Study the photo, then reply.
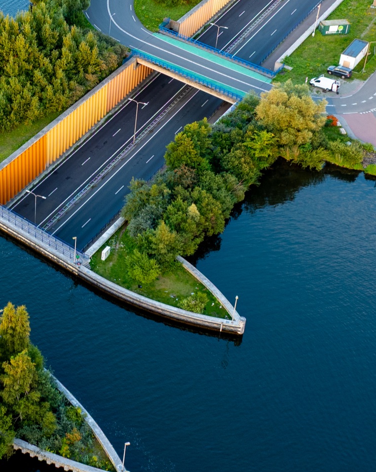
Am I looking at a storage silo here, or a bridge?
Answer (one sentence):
It is a bridge that can be seen here.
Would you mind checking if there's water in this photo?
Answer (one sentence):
Yes, there is water in the image.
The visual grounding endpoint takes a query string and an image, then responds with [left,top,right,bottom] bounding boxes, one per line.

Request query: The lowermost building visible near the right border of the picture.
[340,34,371,68]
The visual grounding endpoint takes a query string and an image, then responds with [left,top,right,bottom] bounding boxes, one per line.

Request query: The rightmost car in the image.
[326,66,353,78]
